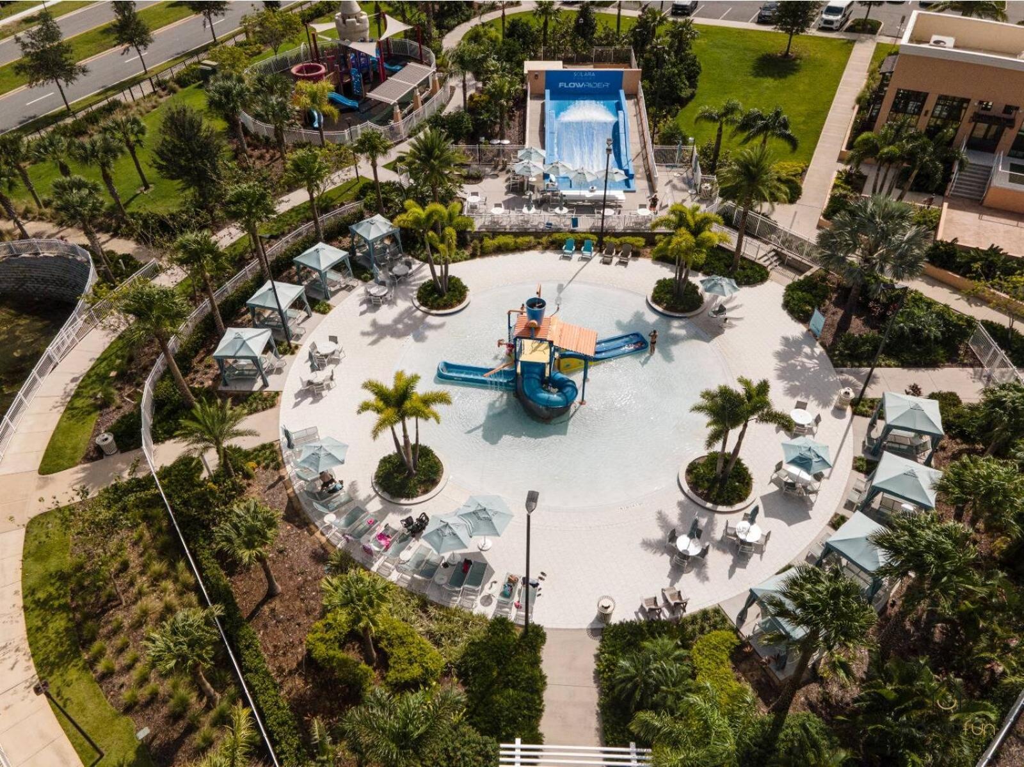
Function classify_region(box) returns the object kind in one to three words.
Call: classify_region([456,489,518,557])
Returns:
umbrella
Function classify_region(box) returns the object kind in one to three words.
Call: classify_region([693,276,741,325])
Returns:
umbrella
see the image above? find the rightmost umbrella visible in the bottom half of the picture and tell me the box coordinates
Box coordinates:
[772,435,841,499]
